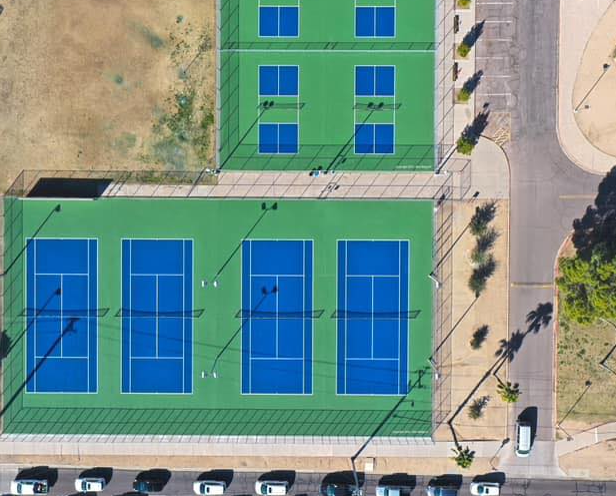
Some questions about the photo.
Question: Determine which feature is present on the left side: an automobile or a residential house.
automobile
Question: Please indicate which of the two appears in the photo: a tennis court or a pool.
tennis court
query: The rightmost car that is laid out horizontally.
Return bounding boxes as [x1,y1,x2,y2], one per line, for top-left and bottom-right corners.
[469,480,502,496]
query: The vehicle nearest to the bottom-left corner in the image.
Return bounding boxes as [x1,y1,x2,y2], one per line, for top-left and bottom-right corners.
[11,476,49,493]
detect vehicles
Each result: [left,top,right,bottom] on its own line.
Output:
[322,481,353,496]
[513,416,532,453]
[194,478,225,495]
[469,480,502,496]
[134,476,165,492]
[426,481,458,496]
[375,482,414,496]
[11,476,49,493]
[76,475,107,492]
[257,478,288,496]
